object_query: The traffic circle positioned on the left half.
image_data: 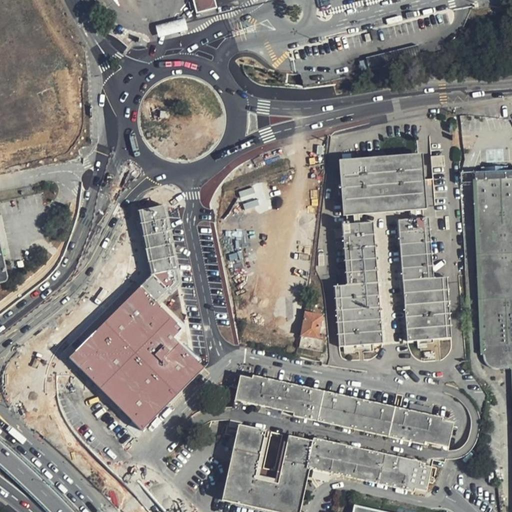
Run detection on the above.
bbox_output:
[116,52,248,184]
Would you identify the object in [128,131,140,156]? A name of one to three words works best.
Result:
vehicle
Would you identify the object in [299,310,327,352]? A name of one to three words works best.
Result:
house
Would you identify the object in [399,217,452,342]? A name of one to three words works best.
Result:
building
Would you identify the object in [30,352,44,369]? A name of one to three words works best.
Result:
vehicle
